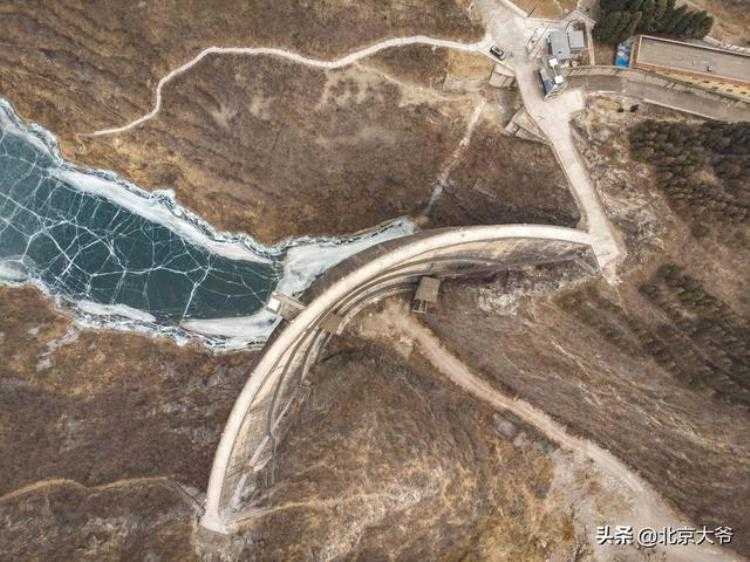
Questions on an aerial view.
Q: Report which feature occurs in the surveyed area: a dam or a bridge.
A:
dam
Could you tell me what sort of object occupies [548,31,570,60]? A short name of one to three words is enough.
house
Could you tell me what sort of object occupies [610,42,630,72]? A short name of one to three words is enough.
shed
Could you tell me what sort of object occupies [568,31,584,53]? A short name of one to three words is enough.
house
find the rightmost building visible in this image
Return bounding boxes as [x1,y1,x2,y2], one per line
[630,34,750,100]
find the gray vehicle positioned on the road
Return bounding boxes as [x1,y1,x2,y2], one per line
[489,44,506,59]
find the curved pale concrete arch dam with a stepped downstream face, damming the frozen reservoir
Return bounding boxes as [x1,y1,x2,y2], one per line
[201,223,590,533]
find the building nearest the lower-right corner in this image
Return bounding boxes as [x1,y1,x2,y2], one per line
[412,279,440,311]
